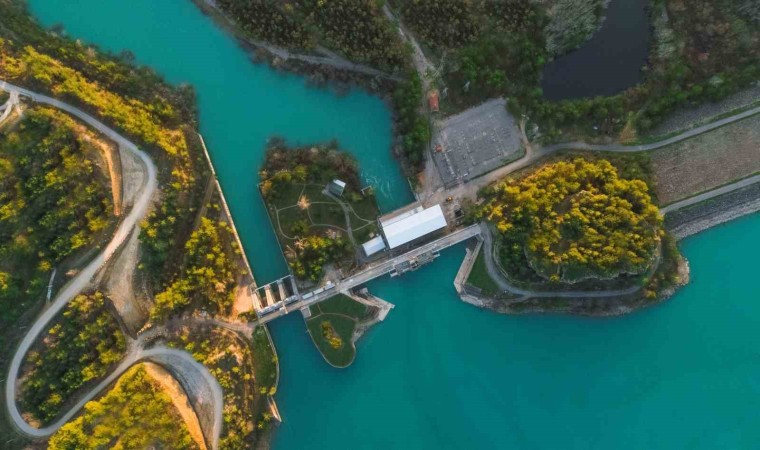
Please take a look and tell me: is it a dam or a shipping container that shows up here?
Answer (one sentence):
I can see a dam in this picture.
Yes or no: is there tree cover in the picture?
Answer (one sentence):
Yes, tree cover shows up in the scene.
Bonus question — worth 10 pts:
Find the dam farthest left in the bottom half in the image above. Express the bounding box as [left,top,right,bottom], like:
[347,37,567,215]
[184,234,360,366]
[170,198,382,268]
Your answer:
[247,224,483,326]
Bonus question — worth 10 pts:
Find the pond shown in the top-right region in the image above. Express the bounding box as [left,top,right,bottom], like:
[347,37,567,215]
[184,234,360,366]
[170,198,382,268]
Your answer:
[541,0,652,100]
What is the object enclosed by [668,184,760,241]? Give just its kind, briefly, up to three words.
dam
